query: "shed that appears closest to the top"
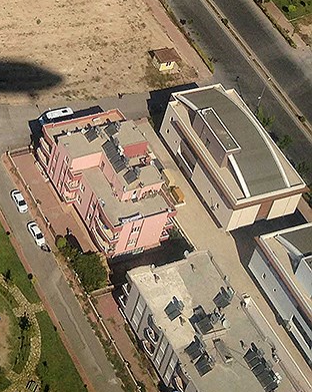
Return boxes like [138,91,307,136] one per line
[152,47,177,71]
